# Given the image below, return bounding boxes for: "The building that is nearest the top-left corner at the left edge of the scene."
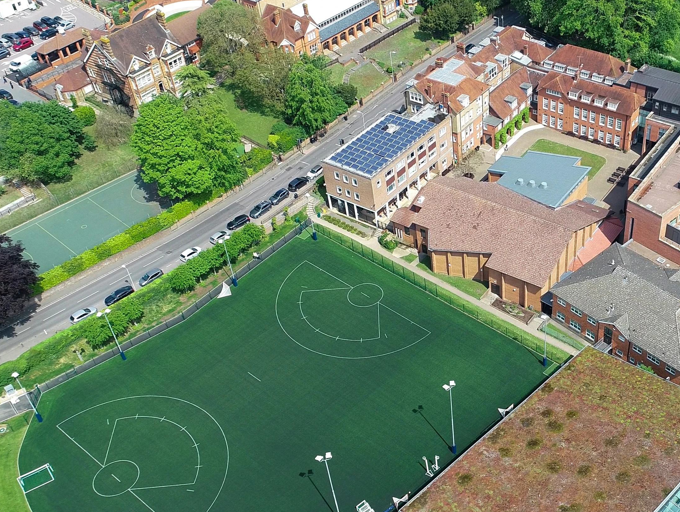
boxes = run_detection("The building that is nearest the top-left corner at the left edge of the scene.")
[0,0,32,18]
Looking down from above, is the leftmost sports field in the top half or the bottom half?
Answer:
bottom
